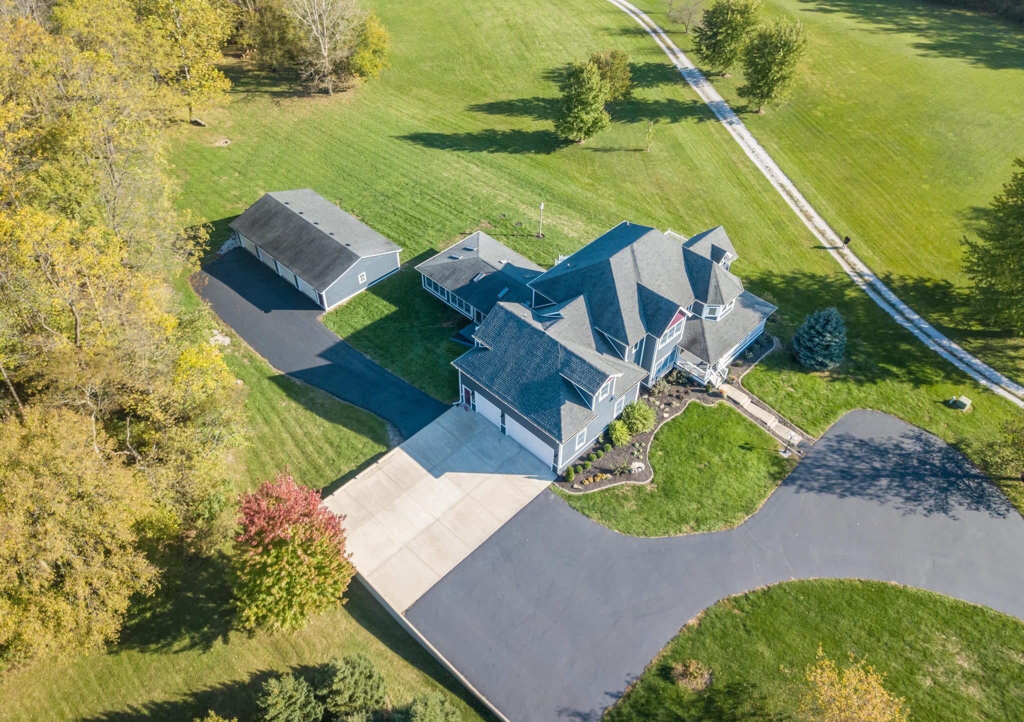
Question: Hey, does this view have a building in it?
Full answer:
Yes, looking at the shot, I can spot a building.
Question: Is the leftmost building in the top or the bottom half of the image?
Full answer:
The top half of the photo is where the leftmost building is.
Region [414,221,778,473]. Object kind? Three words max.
house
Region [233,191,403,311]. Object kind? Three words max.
building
